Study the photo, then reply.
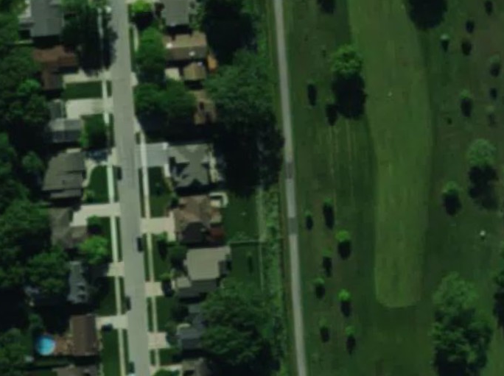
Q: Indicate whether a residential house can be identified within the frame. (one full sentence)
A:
Yes, this view includes a residential house.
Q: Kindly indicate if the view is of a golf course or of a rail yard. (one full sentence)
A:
It's a golf course.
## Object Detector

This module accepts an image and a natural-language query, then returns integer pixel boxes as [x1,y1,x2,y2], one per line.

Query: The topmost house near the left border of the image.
[18,0,64,39]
